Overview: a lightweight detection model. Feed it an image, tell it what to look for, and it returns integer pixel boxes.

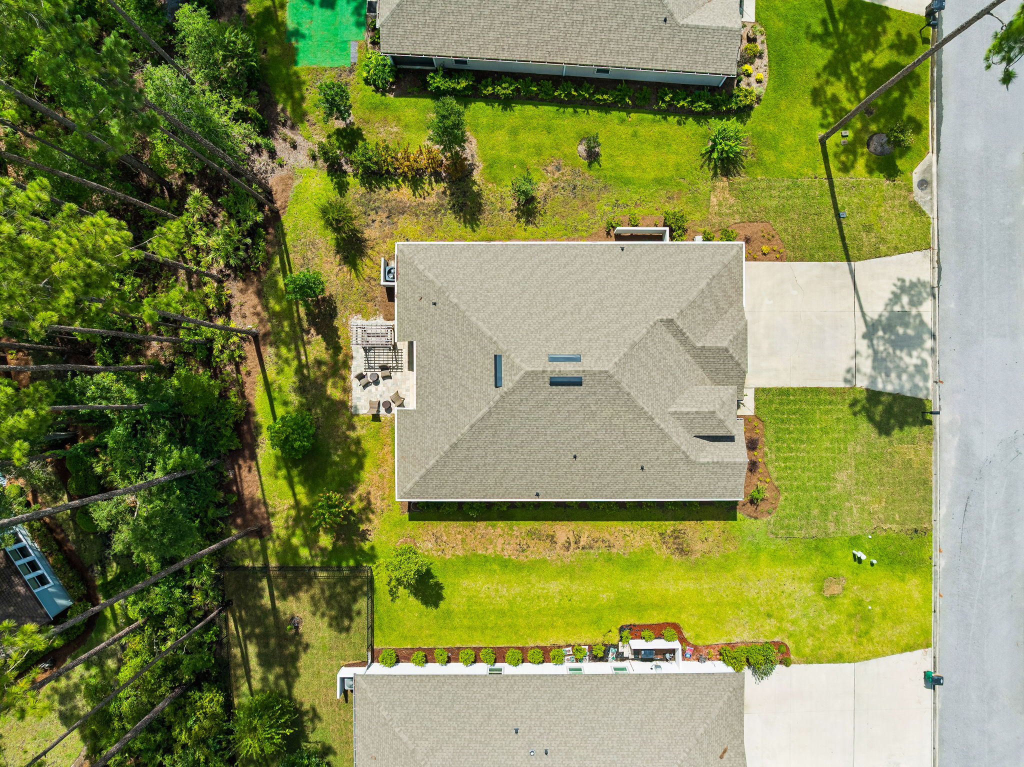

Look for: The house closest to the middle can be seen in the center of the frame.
[393,240,751,503]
